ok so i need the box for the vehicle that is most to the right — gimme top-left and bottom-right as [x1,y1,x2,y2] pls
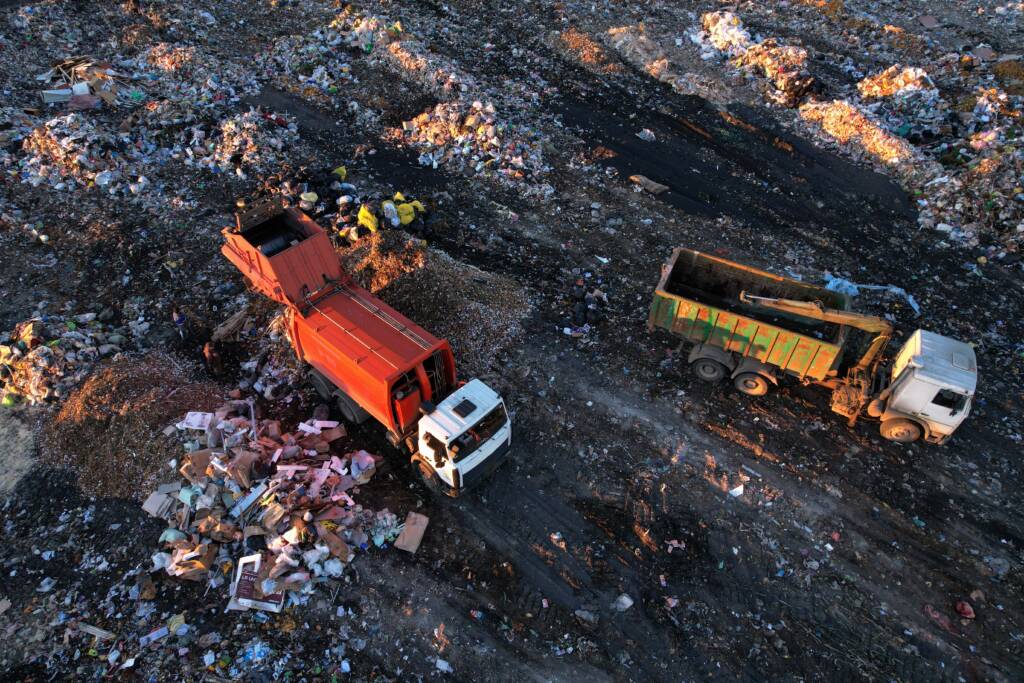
[648,251,978,452]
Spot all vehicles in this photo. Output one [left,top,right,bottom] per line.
[218,198,515,498]
[648,251,978,452]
